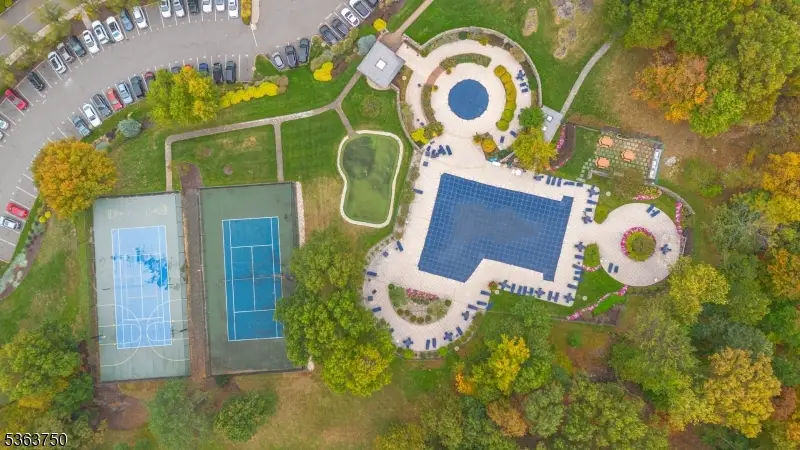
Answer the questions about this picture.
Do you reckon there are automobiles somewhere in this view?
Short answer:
Yes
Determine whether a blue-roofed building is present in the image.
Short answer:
No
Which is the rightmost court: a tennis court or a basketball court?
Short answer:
tennis court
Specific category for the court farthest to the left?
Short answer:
tennis court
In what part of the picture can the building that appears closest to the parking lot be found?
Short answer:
top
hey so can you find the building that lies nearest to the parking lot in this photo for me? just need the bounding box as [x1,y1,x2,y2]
[357,39,405,91]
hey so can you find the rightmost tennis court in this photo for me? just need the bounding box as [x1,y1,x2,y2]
[204,182,302,375]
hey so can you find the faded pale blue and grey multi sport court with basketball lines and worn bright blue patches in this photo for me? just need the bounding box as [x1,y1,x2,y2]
[94,193,189,382]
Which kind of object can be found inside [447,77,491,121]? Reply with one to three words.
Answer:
swimming pool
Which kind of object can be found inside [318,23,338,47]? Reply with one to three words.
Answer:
car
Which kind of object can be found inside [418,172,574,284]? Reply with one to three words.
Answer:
swimming pool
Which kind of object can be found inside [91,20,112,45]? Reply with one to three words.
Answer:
car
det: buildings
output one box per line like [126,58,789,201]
[357,39,405,91]
[527,105,561,141]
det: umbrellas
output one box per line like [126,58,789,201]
[623,149,635,162]
[597,156,609,169]
[601,135,613,148]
